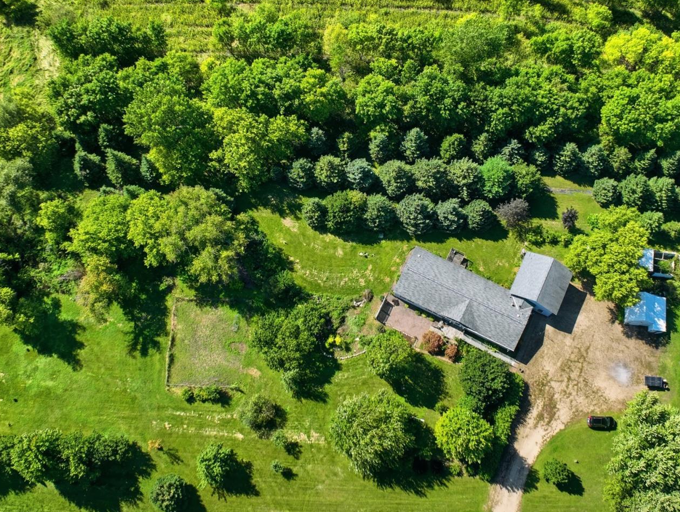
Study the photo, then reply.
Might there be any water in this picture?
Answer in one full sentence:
No, the picture contains no water.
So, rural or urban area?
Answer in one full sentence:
From above, the setting appears rural.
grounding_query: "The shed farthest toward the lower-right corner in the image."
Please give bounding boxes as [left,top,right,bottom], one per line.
[619,291,666,336]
